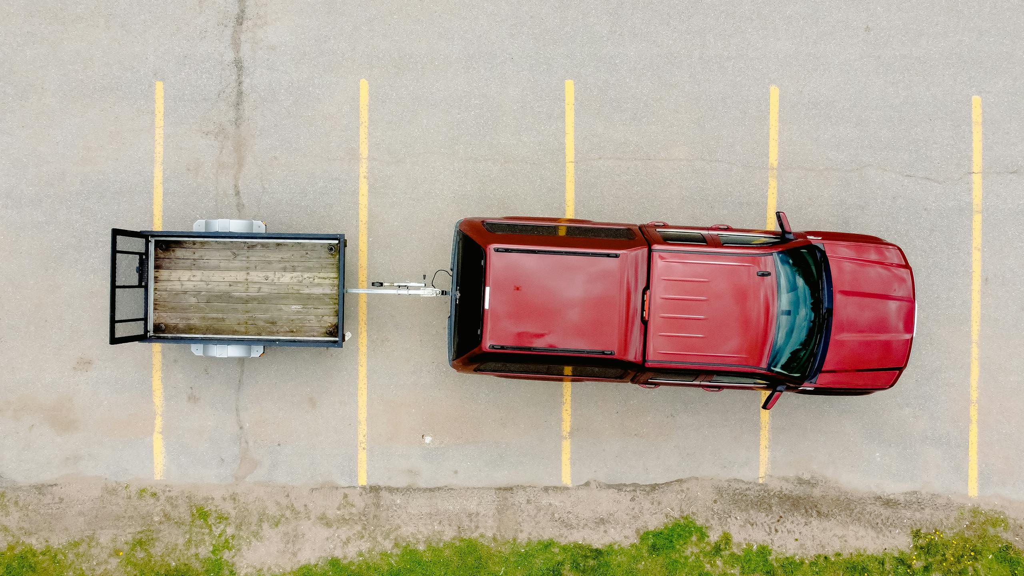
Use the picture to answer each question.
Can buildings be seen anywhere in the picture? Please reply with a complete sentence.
No, the picture doesn't show any building.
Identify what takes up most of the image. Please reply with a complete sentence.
What you mostly see from above here is paved ground.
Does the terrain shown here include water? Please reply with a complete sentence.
No, water can't be seen anywhere here.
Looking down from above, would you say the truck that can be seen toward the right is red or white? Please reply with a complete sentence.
The truck that can be seen toward the right looks red in the image.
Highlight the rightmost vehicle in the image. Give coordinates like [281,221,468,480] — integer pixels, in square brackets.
[440,210,916,412]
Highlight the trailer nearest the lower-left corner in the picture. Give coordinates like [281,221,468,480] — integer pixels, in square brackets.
[107,220,452,360]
